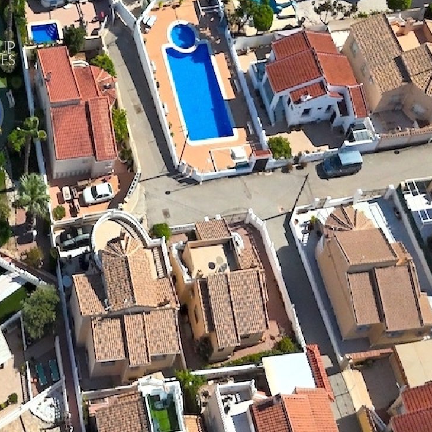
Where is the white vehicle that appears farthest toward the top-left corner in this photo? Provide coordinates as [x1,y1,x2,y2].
[80,180,117,203]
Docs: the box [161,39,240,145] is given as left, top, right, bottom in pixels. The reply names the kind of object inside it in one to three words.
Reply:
swimming pool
